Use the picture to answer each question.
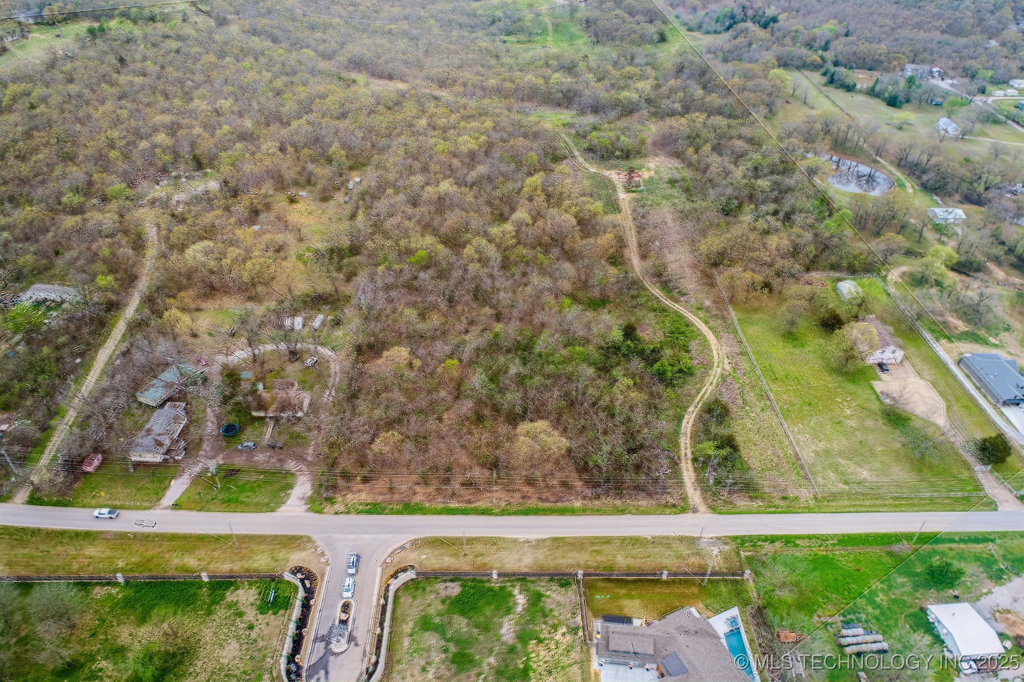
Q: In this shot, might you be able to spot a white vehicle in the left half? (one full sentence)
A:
Yes, in the left half there is a white vehicle.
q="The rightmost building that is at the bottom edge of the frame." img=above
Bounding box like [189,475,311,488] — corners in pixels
[924,603,1008,682]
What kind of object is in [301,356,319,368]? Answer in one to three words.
vehicle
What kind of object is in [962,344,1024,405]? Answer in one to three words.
house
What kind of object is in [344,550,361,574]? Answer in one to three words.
car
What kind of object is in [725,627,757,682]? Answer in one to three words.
swimming pool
